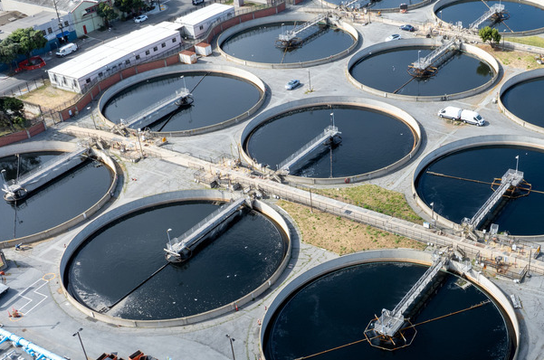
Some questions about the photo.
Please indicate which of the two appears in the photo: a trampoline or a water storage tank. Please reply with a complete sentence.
There is a water storage tank in the scene.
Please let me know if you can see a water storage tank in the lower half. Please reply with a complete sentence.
Yes, I can see a water storage tank in the lower half.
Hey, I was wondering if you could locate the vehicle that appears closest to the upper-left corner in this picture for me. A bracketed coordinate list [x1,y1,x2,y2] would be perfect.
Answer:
[58,43,71,57]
